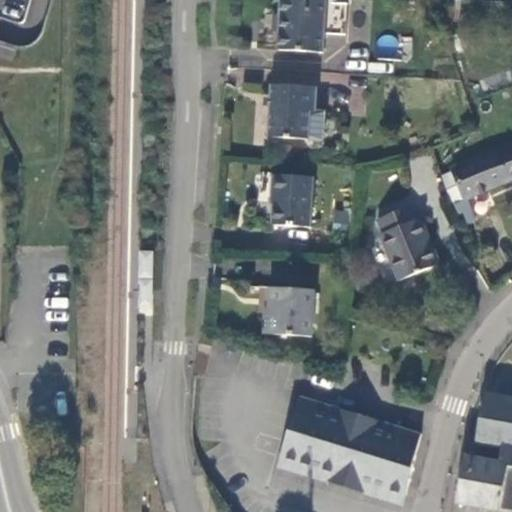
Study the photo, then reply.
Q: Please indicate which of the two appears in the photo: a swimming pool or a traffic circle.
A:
swimming pool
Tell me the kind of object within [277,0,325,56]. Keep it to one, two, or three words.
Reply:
house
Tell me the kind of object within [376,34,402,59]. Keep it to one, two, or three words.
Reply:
swimming pool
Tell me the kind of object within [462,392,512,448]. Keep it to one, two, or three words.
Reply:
building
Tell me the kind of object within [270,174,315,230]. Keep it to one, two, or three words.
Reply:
house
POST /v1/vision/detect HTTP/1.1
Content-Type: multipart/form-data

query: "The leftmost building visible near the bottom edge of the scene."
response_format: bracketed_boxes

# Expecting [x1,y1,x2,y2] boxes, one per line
[278,398,422,502]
